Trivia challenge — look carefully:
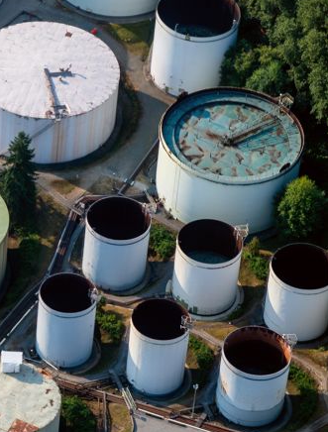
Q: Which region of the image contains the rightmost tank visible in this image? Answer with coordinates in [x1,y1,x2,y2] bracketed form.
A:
[259,241,328,343]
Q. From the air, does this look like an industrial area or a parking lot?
industrial area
